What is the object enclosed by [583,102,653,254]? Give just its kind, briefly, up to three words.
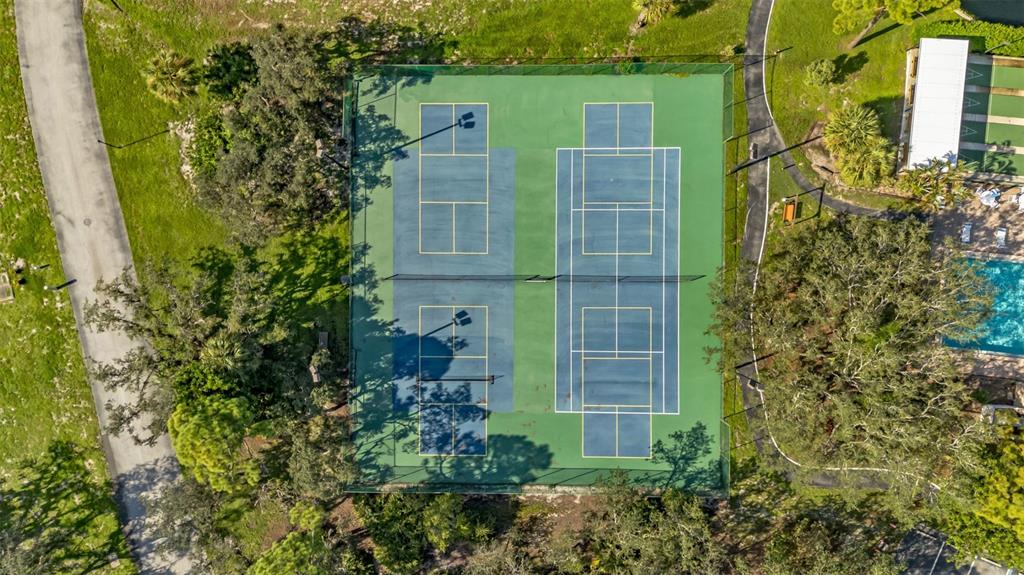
sports court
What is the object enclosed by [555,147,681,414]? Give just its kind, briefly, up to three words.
tennis court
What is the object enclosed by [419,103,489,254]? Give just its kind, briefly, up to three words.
sports court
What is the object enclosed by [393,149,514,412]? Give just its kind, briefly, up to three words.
tennis court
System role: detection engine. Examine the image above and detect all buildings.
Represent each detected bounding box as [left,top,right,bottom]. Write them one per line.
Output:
[894,38,969,171]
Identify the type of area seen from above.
sports ground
